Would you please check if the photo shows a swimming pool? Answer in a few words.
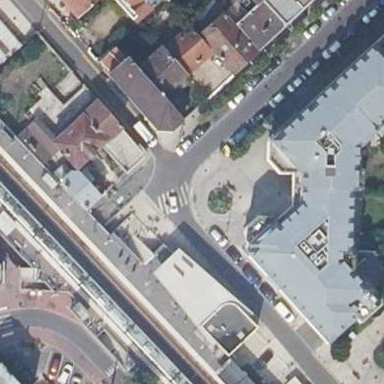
No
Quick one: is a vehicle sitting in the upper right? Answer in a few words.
Yes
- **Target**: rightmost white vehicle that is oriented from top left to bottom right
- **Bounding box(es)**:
[275,300,295,320]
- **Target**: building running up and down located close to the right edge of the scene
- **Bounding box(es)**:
[246,32,384,346]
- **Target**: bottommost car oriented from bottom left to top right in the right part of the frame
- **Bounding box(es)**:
[256,345,276,365]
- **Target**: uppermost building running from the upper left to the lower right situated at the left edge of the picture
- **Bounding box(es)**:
[0,0,31,35]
